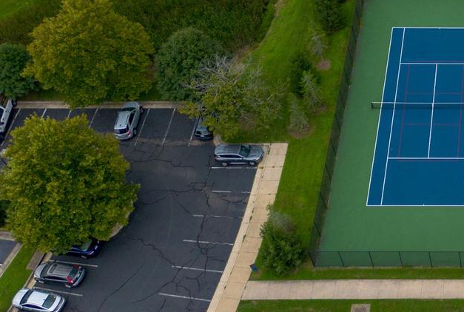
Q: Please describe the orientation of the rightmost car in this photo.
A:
from left to right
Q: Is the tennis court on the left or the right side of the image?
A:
right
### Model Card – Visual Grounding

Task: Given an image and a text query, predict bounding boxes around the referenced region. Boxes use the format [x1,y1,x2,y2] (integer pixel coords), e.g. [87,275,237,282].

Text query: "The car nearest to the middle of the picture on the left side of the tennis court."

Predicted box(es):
[212,144,264,167]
